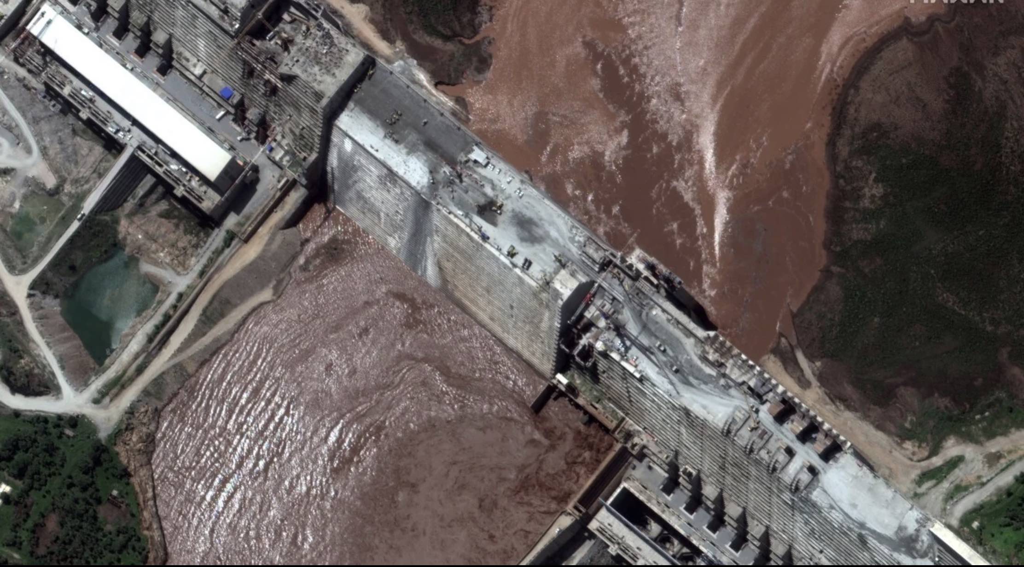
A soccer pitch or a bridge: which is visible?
bridge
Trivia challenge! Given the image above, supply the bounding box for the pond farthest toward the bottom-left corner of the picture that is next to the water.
[58,248,160,367]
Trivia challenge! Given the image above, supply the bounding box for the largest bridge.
[74,146,145,230]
